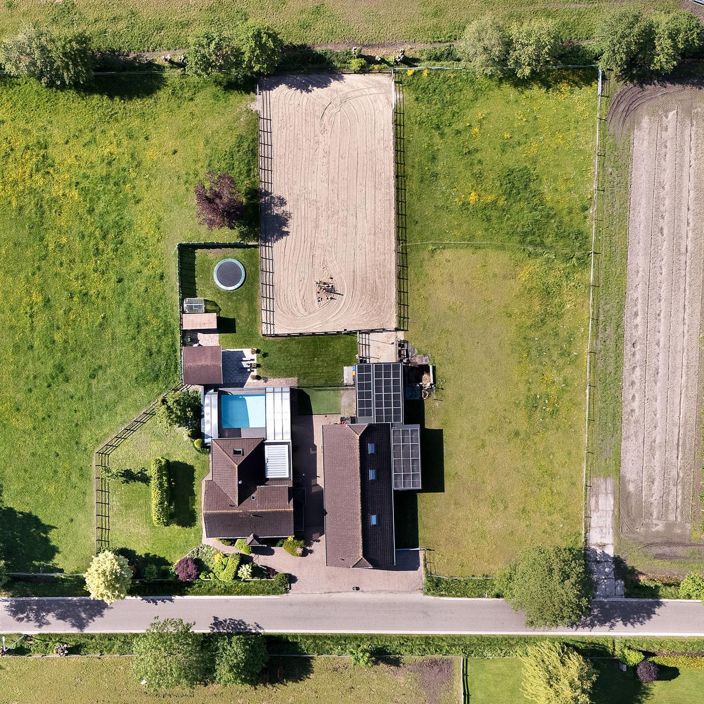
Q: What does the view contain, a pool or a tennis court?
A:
pool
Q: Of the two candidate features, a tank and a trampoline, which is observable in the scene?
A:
trampoline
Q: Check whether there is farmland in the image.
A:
Yes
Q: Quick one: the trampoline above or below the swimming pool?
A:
above it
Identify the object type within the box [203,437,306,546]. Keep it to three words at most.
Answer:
house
